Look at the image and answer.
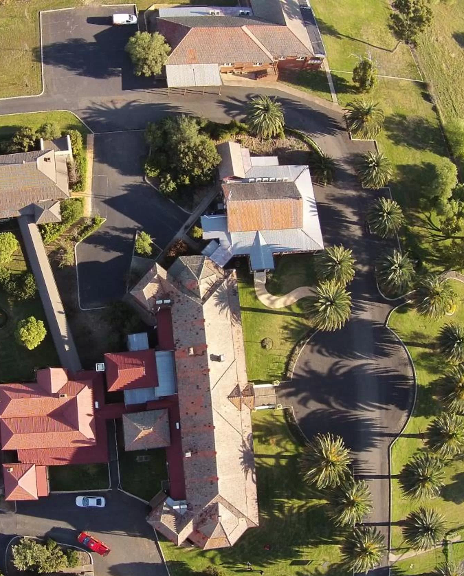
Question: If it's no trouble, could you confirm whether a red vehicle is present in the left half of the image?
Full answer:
Yes, you'll find a red vehicle in the left half of the image.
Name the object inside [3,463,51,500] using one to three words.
house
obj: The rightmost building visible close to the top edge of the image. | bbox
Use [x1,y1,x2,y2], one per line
[156,0,326,96]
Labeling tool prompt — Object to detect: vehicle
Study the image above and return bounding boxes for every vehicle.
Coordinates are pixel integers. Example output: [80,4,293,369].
[75,496,105,510]
[78,532,111,562]
[113,10,137,24]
